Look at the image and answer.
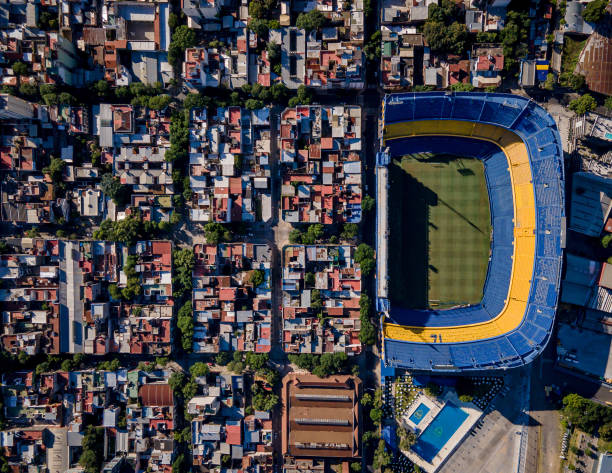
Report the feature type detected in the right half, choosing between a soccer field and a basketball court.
soccer field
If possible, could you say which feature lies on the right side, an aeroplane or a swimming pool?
swimming pool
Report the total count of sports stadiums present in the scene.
1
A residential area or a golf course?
residential area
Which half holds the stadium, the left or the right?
right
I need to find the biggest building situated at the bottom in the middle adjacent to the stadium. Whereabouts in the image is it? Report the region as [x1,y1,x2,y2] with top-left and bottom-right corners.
[283,372,362,458]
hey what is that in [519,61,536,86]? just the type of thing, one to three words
house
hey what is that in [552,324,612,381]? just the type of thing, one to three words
building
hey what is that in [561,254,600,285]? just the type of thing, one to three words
building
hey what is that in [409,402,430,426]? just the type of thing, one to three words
swimming pool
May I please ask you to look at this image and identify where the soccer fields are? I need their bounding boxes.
[390,155,491,309]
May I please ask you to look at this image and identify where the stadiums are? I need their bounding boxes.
[371,89,572,378]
